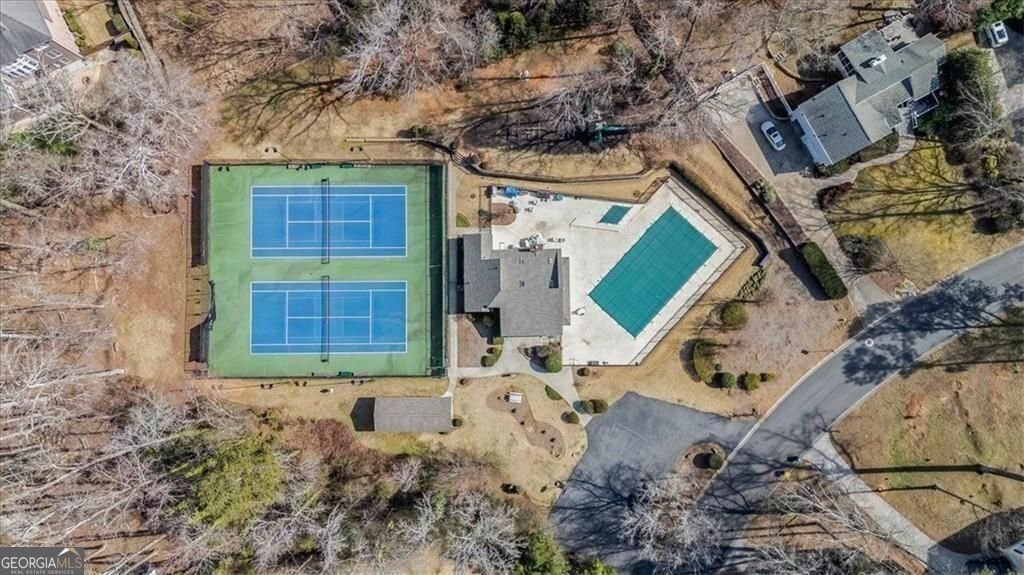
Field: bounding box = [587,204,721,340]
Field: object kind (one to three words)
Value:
swimming pool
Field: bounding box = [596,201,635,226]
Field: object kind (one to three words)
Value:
swimming pool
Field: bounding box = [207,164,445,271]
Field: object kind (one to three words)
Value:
tennis court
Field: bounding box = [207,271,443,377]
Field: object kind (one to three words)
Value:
tennis court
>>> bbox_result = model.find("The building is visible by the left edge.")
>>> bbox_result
[0,0,84,109]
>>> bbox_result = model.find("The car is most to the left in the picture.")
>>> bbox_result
[762,119,788,151]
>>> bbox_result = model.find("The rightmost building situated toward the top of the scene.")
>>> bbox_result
[787,29,945,168]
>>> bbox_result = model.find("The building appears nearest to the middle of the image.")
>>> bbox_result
[463,235,570,337]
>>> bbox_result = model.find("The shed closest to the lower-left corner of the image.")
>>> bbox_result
[373,396,453,432]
